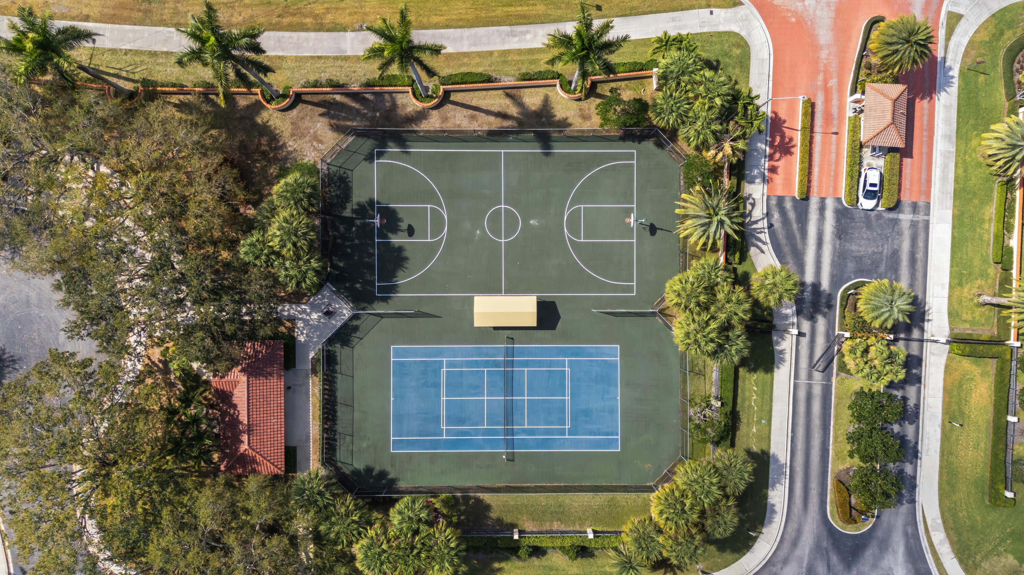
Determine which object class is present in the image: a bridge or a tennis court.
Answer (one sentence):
It is a tennis court that can be seen here.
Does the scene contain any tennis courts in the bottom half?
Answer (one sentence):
Yes, a tennis court appears in the bottom half.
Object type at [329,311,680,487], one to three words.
tennis court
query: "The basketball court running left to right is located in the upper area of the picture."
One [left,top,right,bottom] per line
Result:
[328,135,681,311]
